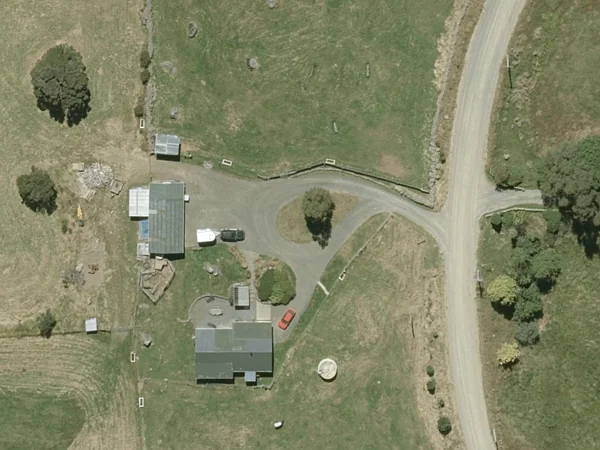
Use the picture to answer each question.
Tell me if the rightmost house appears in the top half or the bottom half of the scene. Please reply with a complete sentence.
You can find the rightmost house in the bottom half.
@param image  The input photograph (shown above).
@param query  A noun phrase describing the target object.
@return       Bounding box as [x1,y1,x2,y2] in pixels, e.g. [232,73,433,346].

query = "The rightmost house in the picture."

[193,321,272,381]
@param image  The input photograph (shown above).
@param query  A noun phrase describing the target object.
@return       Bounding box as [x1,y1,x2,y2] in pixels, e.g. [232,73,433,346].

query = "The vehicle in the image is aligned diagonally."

[279,308,296,329]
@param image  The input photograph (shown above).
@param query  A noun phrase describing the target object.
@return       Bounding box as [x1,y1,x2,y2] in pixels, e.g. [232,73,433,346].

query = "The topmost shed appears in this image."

[156,132,180,156]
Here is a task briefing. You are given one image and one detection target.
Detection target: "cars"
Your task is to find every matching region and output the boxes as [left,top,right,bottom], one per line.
[279,308,296,329]
[220,230,245,241]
